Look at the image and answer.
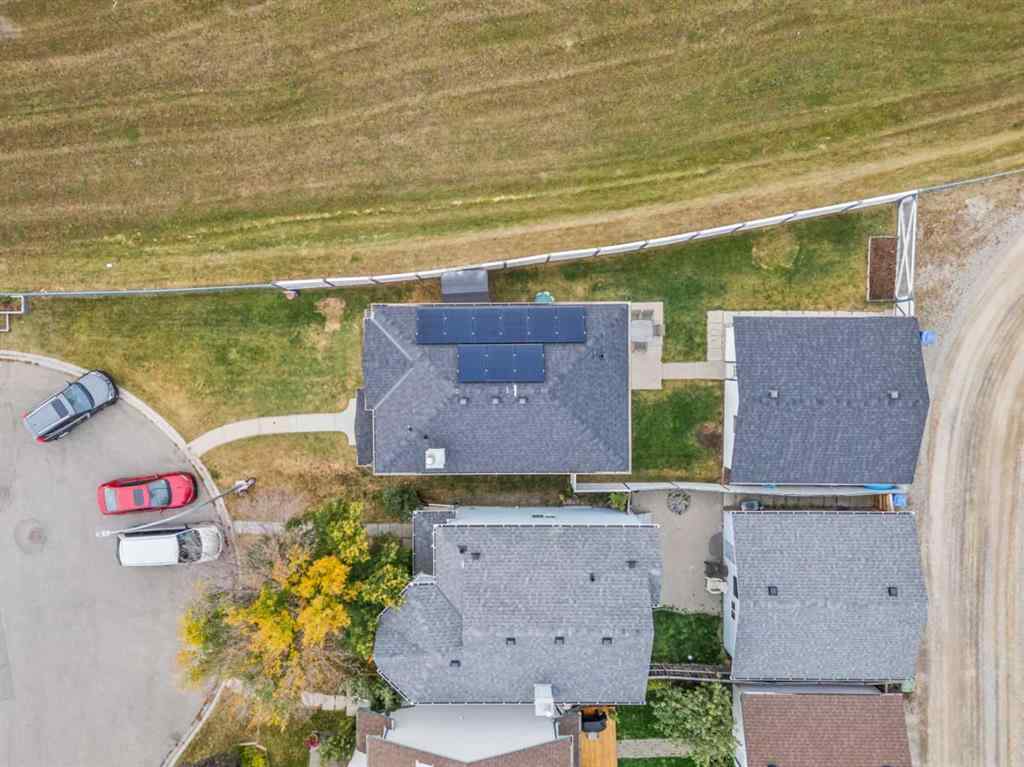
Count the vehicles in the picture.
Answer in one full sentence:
Altogether the scene contains 3 vehicles.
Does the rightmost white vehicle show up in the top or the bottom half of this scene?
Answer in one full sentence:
Seen from above, the rightmost white vehicle lies in the bottom half of the view.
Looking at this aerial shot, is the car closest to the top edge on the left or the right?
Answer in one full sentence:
The car closest to the top edge sits on the left side.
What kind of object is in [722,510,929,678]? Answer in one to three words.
building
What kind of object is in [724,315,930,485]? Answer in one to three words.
building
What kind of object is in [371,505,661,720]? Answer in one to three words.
house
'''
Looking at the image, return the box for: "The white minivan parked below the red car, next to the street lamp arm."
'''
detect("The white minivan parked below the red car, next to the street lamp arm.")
[118,522,223,569]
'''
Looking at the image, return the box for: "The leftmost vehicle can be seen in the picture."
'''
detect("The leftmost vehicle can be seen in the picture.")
[23,373,122,441]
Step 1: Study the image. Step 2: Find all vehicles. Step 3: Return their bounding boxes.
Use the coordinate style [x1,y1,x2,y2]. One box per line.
[118,522,223,569]
[23,373,122,441]
[100,471,200,517]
